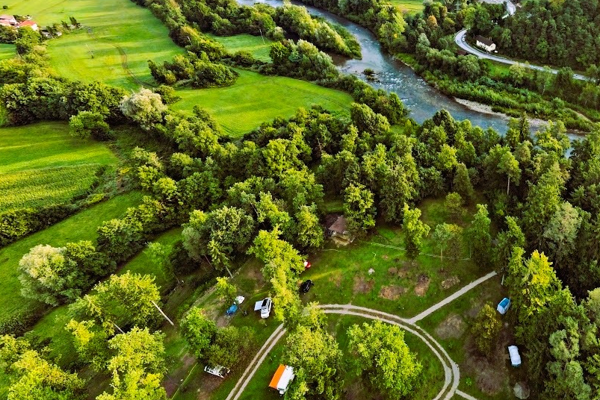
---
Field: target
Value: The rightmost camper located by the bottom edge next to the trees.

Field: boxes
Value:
[267,369,291,399]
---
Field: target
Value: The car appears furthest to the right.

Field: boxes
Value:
[300,279,314,294]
